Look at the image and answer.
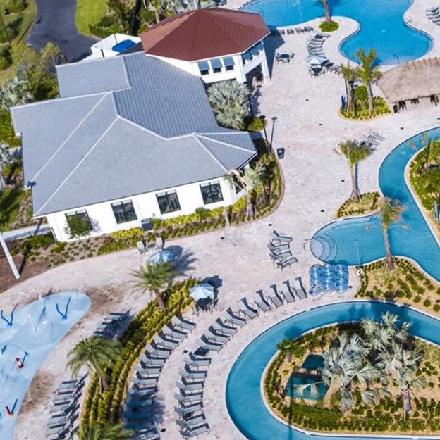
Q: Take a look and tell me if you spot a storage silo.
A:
No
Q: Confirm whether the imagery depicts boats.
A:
No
